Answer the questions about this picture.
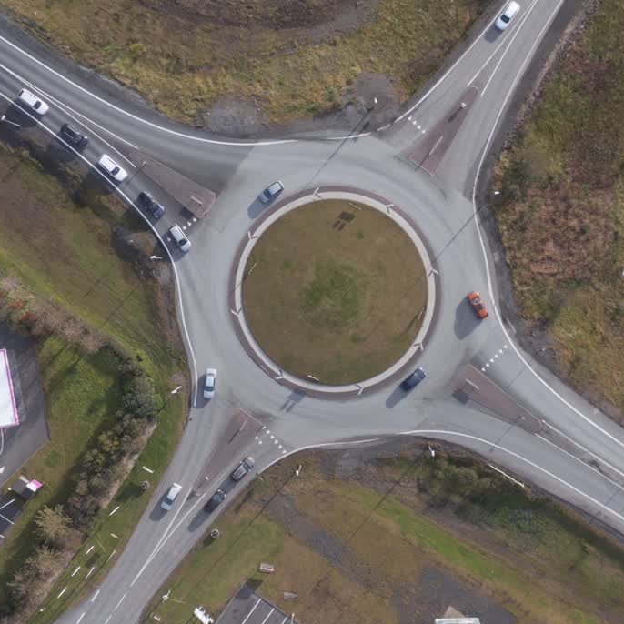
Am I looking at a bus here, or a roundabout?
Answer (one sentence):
There is a roundabout in the scene.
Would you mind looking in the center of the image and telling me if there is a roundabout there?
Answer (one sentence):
Yes, a roundabout can be seen in the center of the image.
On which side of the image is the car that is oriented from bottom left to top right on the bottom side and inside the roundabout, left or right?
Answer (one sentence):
It is on the right.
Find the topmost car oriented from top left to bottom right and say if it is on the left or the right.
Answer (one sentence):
It is on the left.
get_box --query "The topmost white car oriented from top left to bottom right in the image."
[17,88,50,115]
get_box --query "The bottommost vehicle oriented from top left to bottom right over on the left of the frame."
[168,223,193,252]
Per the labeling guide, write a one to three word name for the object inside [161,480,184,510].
car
